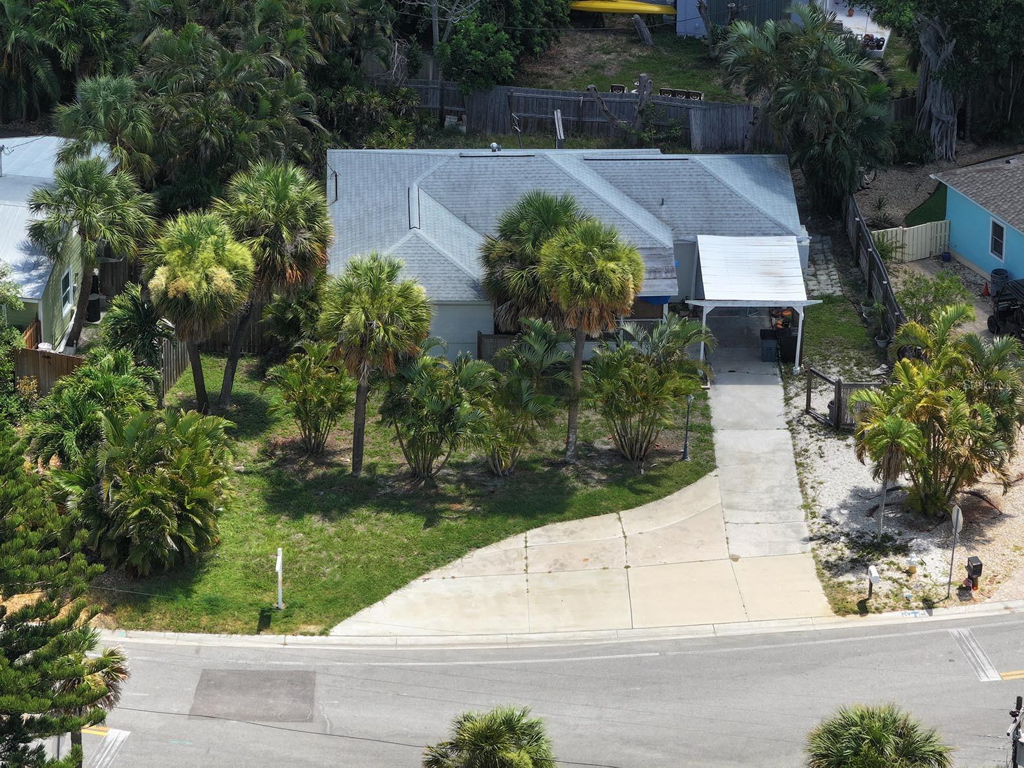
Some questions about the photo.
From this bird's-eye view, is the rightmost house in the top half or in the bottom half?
top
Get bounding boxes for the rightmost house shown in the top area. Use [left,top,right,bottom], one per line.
[931,152,1024,283]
